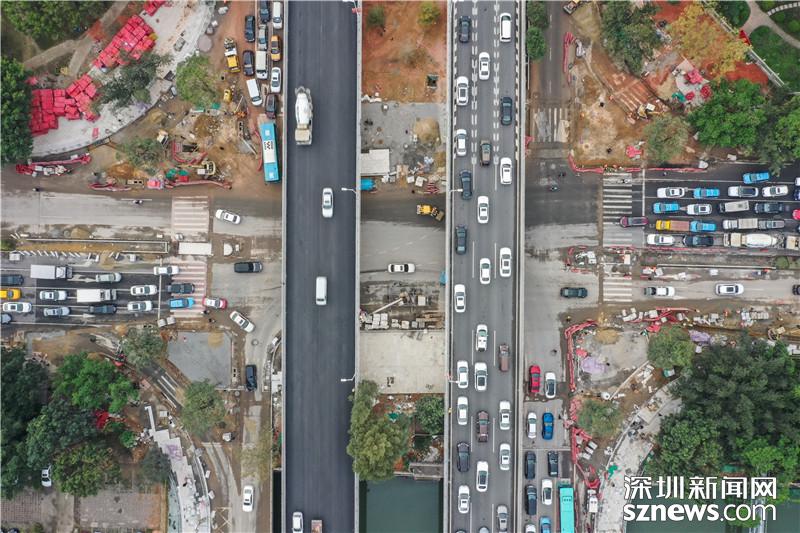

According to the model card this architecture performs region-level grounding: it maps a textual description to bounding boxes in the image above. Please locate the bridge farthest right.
[444,0,526,533]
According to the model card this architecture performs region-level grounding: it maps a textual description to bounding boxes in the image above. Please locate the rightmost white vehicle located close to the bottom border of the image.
[587,489,601,513]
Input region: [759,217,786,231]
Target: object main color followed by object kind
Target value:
gray vehicle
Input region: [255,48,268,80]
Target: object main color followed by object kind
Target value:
white vehicle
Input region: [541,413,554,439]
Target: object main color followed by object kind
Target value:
blue vehicle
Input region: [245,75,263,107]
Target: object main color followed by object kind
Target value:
white vehicle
